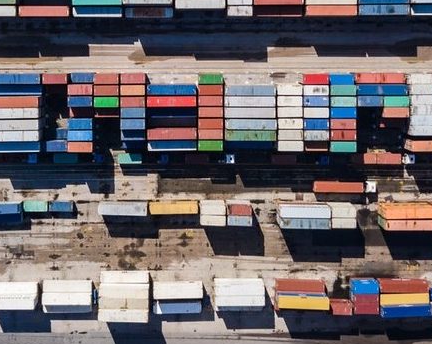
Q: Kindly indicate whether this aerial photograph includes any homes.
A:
No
